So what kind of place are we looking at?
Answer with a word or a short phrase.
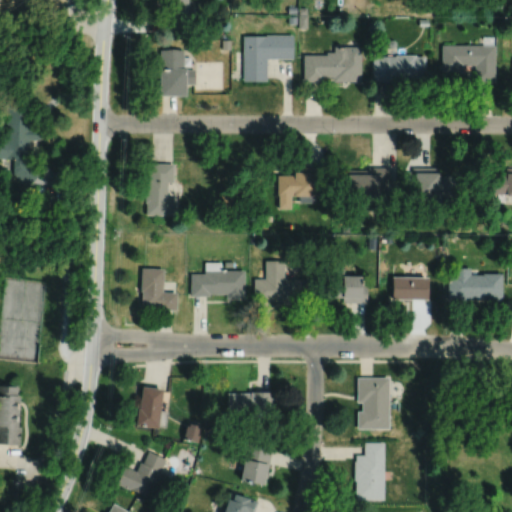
residential area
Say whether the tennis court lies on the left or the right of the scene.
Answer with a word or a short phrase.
left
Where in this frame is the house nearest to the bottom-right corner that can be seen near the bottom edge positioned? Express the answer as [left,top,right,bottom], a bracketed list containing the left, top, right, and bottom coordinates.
[356,444,386,501]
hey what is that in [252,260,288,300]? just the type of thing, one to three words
house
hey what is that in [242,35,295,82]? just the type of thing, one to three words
house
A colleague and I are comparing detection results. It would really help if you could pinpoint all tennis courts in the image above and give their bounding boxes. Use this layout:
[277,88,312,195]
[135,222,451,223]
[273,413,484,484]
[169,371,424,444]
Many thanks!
[0,278,44,364]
